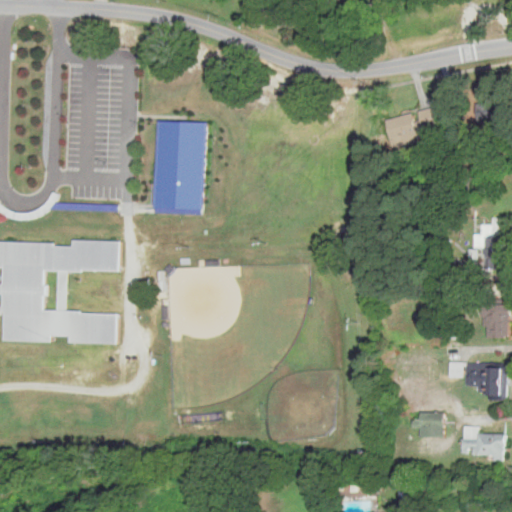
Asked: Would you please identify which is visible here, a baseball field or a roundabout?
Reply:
baseball field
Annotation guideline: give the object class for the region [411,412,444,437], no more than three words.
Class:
house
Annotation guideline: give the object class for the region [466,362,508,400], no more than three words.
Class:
house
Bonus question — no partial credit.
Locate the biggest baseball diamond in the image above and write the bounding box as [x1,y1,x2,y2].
[170,264,312,409]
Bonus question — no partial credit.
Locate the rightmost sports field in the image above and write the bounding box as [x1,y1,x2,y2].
[267,372,338,441]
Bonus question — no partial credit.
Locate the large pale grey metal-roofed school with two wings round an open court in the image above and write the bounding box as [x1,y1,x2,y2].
[0,240,122,345]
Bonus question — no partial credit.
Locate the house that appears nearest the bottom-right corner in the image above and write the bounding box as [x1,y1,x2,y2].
[461,426,508,462]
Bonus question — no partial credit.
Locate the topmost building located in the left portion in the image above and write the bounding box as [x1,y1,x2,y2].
[154,121,210,214]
